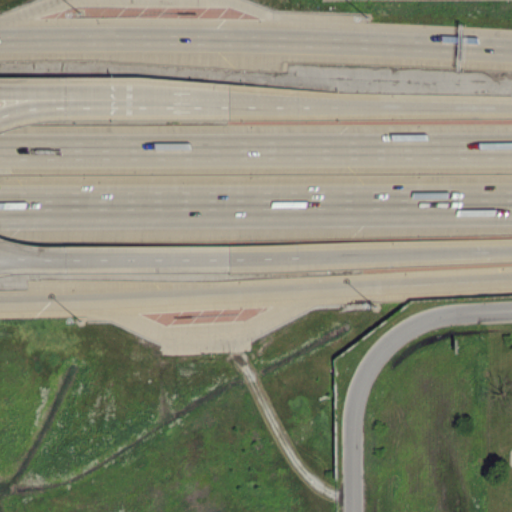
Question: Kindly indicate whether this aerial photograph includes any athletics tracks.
No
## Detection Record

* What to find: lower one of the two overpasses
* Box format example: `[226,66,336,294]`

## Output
[0,237,512,277]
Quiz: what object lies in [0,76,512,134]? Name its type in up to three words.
overpass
